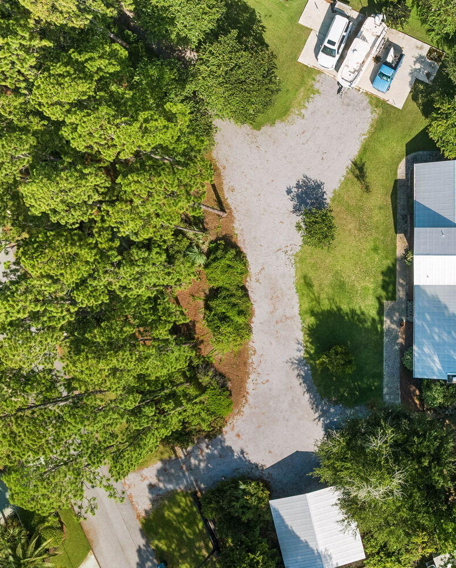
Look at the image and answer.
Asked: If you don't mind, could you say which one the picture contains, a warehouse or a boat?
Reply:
boat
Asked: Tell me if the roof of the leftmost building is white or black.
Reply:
white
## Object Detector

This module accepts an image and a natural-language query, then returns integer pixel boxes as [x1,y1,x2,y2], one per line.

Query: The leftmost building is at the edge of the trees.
[270,483,365,568]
